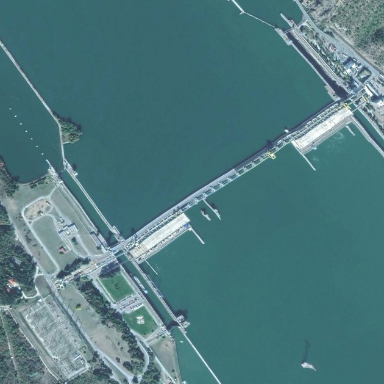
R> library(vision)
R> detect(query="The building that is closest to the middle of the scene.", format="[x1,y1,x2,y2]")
[129,214,194,264]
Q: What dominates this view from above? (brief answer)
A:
water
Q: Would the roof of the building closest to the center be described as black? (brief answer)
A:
No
